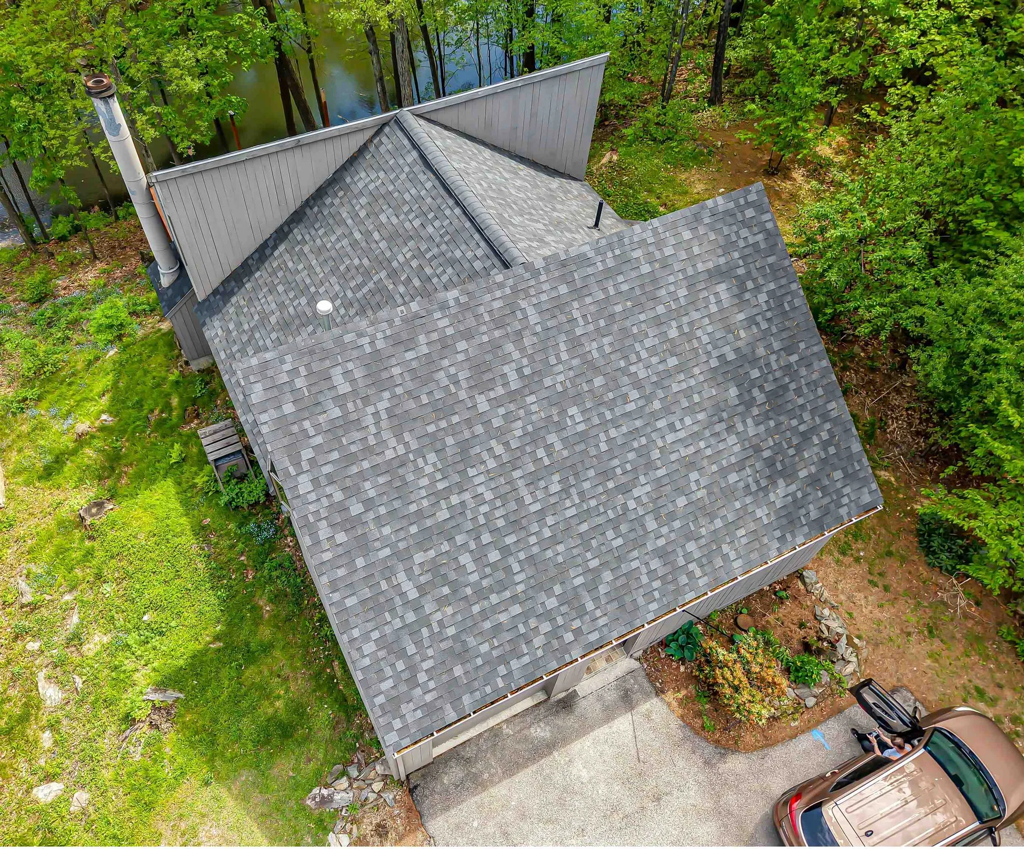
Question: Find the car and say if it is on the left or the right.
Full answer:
The car is on the right side of the image.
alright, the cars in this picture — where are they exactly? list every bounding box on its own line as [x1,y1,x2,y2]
[770,689,1024,849]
